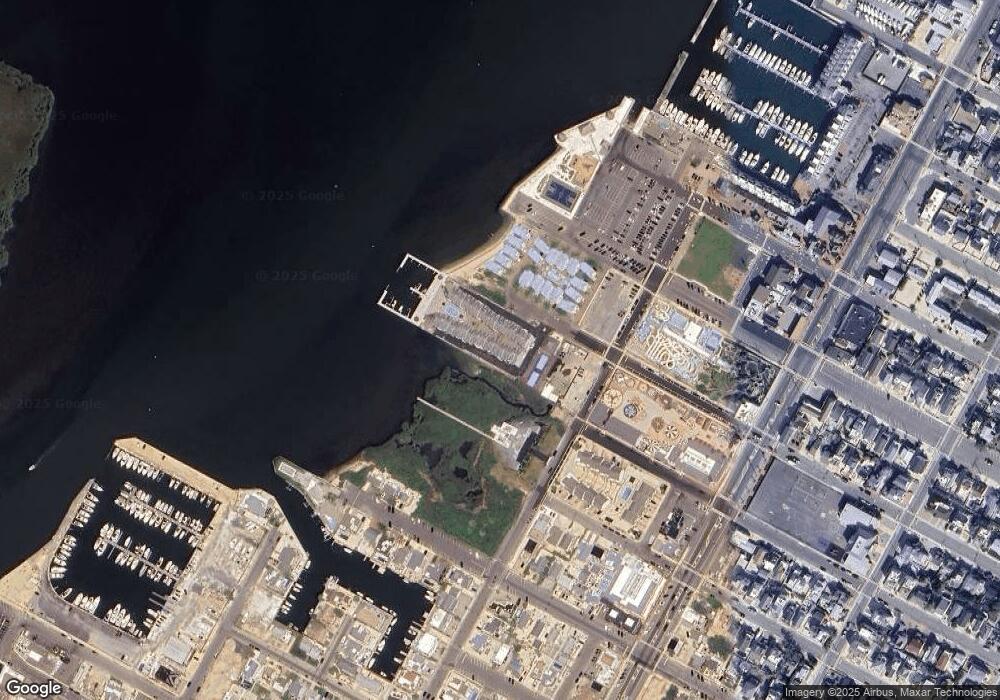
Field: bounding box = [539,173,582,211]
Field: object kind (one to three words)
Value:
basketball court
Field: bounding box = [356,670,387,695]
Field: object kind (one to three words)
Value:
house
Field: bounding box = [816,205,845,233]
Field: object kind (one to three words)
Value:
building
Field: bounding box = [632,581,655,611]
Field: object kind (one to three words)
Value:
building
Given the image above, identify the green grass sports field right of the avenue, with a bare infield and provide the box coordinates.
[668,213,760,304]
